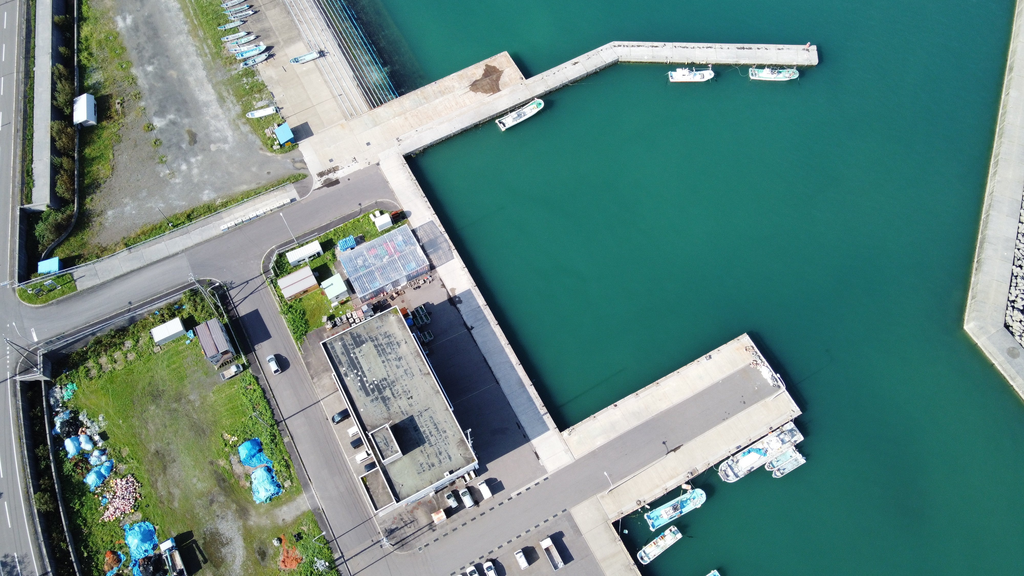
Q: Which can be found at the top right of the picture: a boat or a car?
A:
boat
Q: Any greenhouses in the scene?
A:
Yes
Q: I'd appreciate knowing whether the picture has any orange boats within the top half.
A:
No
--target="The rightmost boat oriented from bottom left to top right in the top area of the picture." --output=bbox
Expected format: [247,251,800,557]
[497,101,543,133]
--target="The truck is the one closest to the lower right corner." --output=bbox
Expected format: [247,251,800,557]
[536,533,567,574]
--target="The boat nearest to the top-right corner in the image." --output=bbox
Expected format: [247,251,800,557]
[747,63,800,82]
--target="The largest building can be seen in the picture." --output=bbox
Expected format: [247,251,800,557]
[321,307,478,515]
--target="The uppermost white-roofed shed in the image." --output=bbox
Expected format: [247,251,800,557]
[72,94,102,133]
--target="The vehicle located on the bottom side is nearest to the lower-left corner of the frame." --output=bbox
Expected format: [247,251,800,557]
[158,540,186,576]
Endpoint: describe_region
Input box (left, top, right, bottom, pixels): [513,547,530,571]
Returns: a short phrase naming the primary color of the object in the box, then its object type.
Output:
white vehicle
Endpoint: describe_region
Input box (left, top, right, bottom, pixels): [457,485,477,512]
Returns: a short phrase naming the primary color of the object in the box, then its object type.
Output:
white car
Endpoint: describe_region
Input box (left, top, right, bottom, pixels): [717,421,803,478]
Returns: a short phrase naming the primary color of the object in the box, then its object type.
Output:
white boat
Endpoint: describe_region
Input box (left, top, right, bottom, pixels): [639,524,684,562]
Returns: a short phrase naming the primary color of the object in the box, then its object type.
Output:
white boat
